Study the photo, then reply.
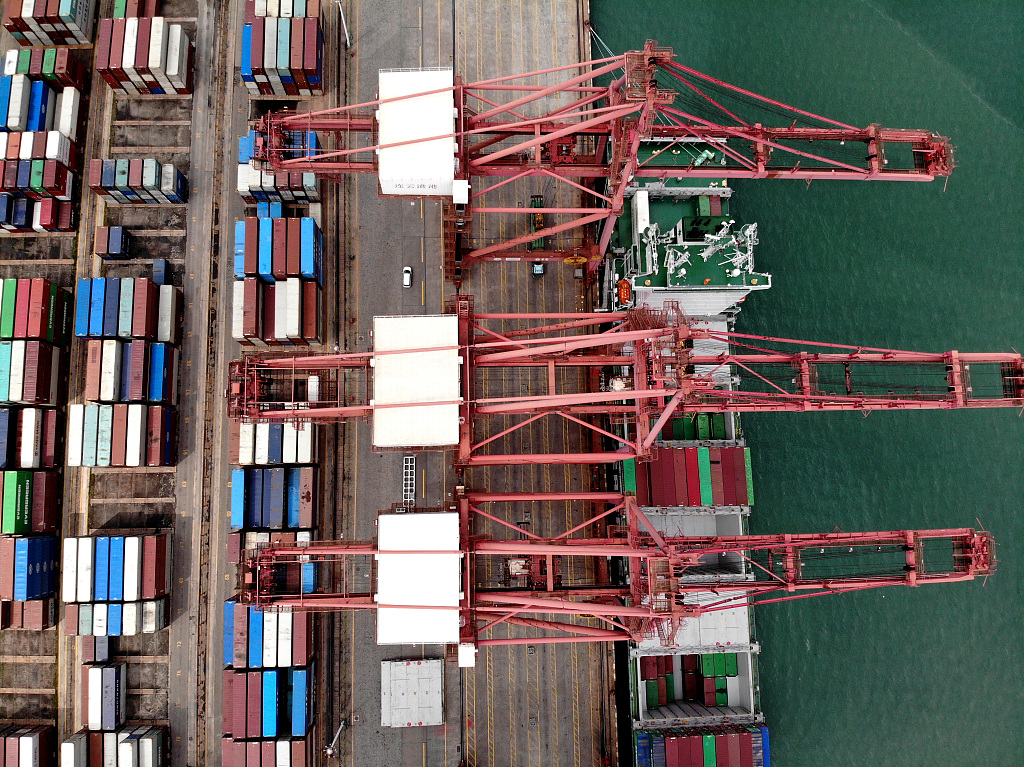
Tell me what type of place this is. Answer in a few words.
port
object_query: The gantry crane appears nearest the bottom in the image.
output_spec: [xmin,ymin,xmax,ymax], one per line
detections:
[236,466,1001,674]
